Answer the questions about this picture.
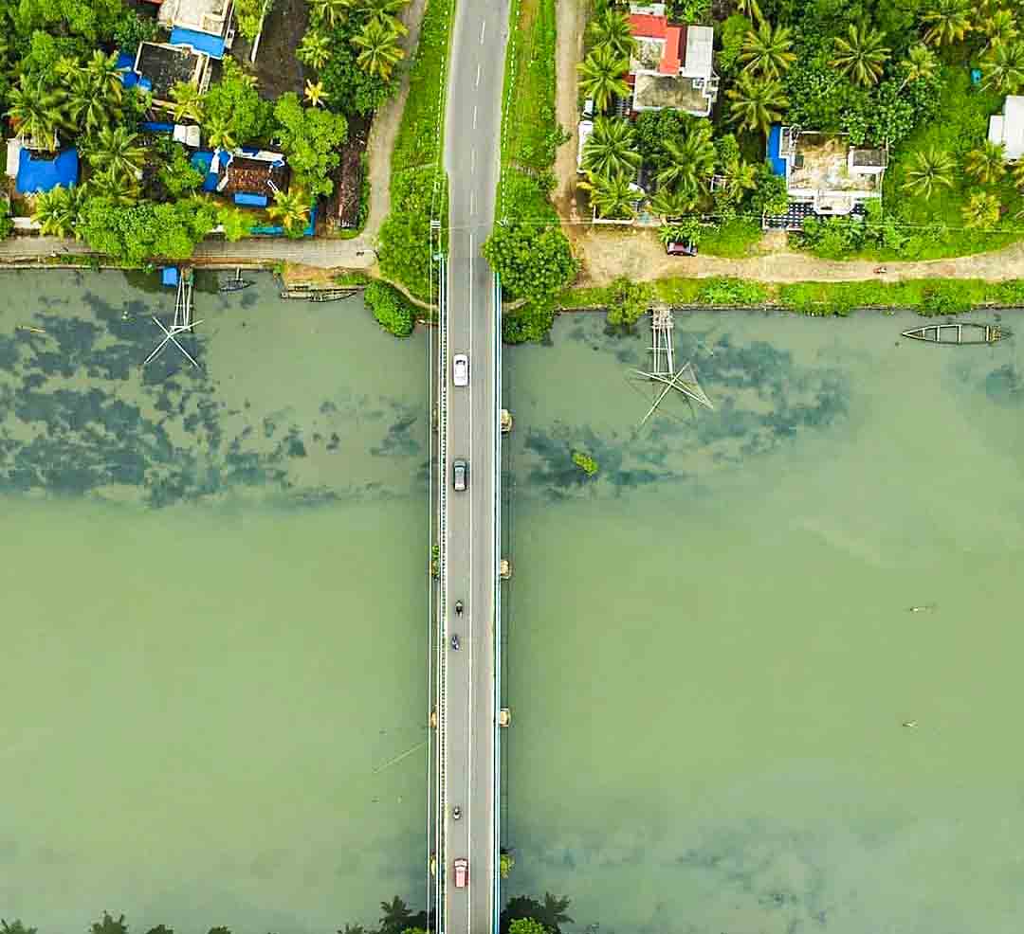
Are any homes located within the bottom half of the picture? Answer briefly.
No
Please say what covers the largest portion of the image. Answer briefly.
water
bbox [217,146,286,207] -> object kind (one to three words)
house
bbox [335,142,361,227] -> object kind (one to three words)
shed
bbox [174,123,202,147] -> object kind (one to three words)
shed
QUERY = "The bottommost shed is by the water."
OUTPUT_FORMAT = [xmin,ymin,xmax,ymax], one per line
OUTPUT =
[161,266,183,287]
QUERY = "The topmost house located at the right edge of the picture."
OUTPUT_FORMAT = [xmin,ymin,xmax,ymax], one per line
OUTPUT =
[982,95,1024,163]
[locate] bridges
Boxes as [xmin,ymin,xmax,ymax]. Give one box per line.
[436,248,512,934]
